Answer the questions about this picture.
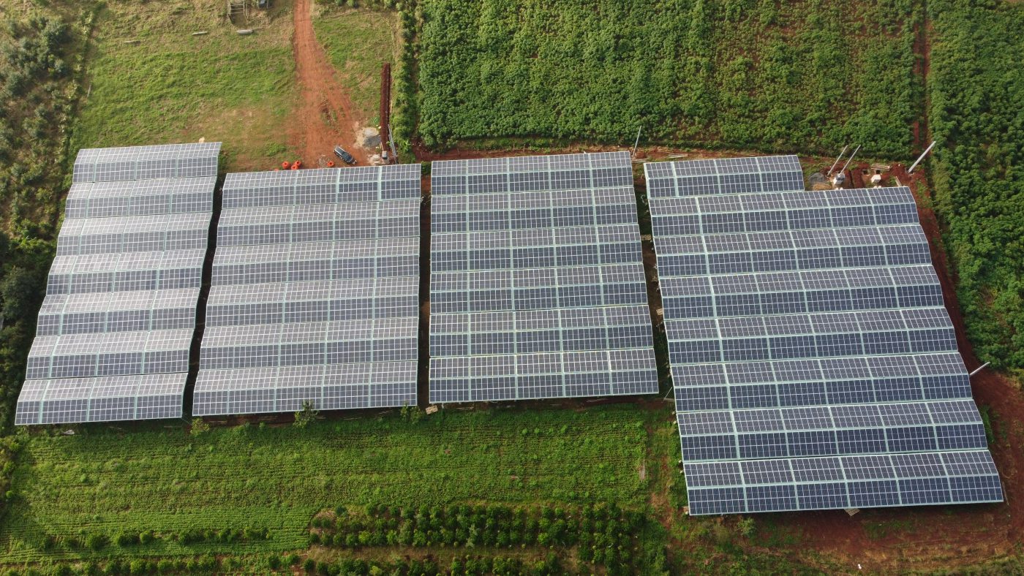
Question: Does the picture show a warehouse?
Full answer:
No, the frame has no warehouse in it.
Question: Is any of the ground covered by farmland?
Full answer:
Yes, the picture does contain farmland.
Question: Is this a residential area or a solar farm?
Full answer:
The picture captures a solar farm.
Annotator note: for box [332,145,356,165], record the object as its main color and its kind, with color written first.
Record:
gray vehicle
